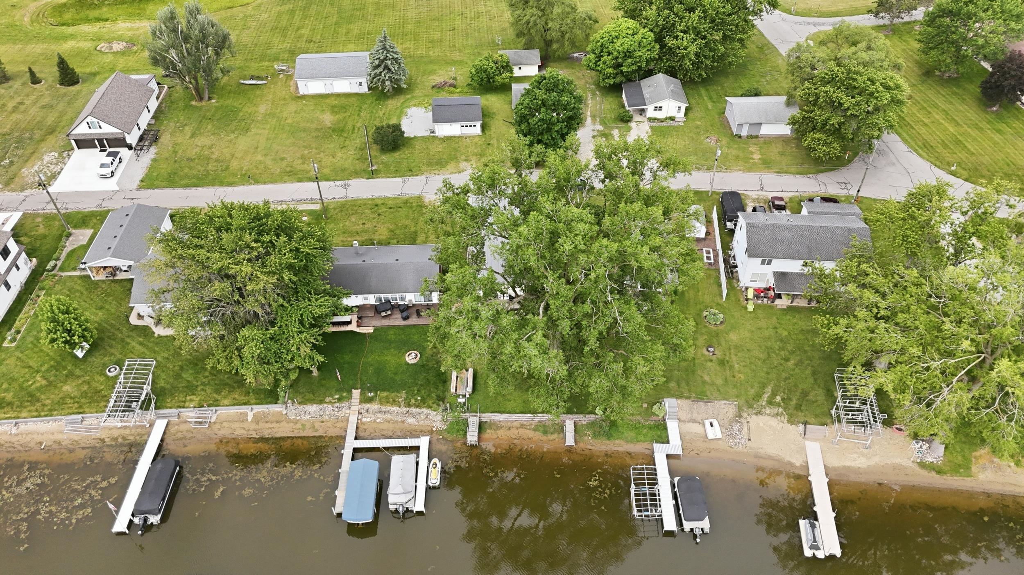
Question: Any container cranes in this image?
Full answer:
No, the photo shows no container crane.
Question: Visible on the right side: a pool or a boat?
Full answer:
It is a boat that can be seen on the right side.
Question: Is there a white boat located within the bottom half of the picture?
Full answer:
Yes, the scene does show a white boat within the bottom half of the picture.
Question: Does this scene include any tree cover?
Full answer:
Yes, some tree cover is visible.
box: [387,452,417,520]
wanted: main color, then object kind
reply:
white boat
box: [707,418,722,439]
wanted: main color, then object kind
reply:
white boat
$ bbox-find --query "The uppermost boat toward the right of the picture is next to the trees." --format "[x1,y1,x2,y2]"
[719,189,744,230]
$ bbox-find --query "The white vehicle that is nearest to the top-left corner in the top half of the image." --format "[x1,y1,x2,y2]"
[96,150,121,176]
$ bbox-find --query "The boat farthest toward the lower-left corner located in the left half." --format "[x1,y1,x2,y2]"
[135,462,185,530]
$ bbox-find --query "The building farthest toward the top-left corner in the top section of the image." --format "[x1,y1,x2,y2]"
[67,69,167,153]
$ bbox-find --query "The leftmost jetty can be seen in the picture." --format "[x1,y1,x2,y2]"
[112,425,167,534]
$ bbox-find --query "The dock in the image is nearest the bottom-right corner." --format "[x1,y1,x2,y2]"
[808,450,848,559]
